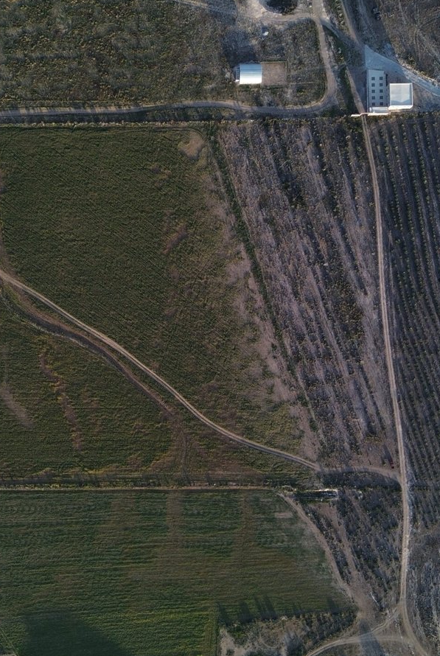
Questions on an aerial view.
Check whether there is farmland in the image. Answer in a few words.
Yes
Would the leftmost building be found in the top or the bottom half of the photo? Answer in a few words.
top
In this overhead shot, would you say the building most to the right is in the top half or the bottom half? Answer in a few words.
top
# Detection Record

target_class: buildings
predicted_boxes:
[236,63,287,87]
[365,70,385,108]
[387,84,412,108]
